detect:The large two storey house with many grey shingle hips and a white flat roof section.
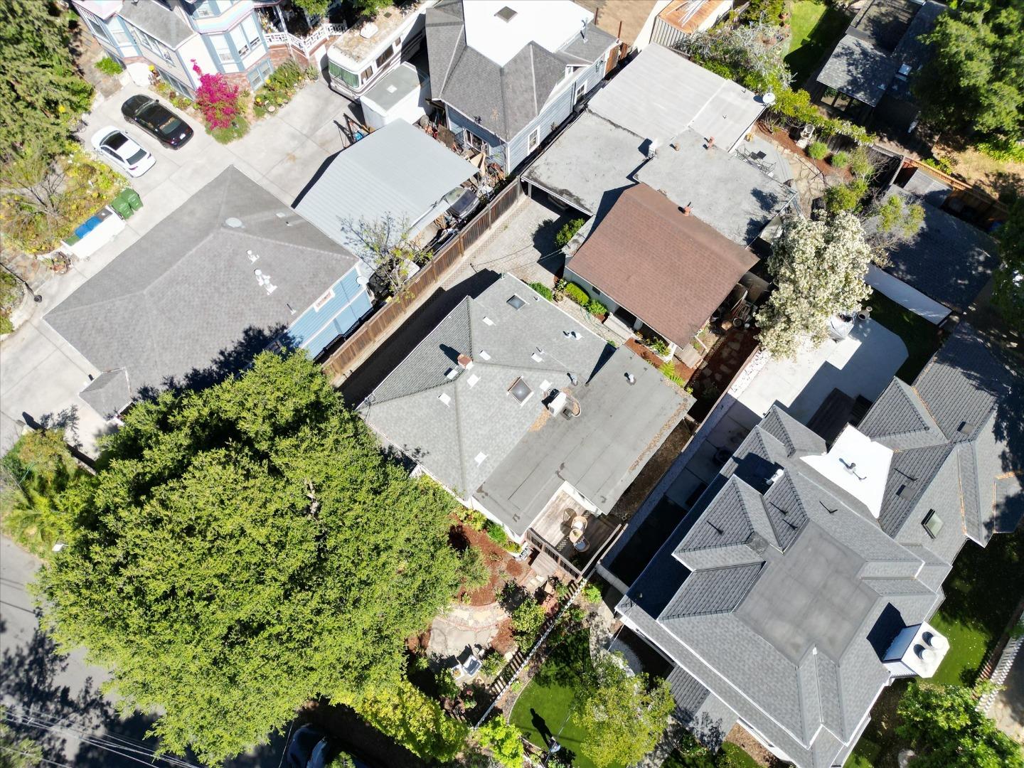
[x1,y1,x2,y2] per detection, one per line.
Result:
[614,335,1024,768]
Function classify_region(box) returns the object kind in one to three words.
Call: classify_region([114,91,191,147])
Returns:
car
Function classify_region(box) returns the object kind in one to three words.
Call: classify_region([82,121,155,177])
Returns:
car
